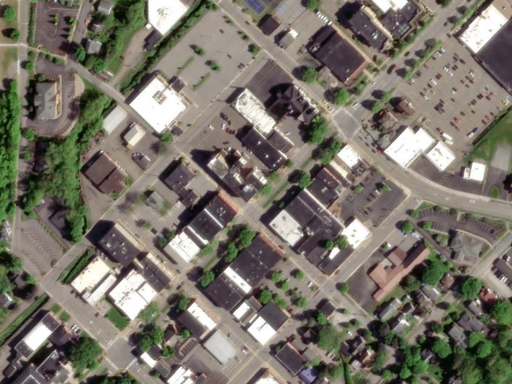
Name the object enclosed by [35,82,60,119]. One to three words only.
building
